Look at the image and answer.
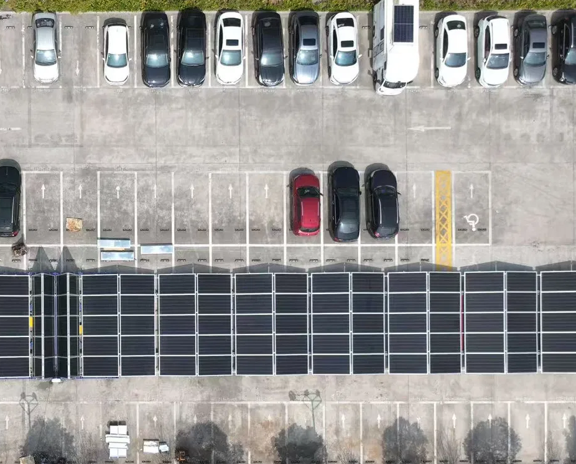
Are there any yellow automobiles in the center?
No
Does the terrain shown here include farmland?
No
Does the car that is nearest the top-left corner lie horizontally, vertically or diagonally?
vertically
